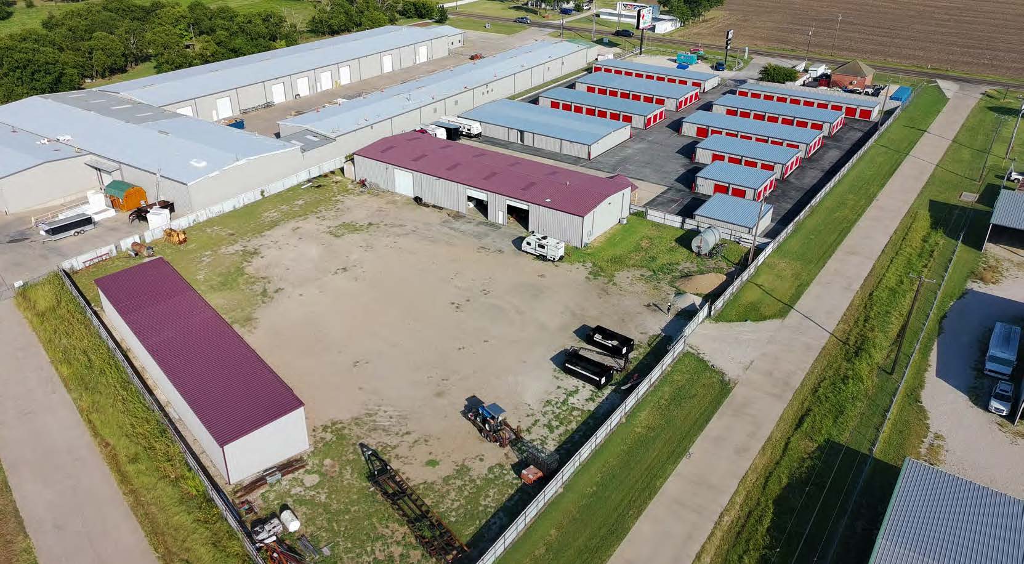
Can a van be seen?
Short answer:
Yes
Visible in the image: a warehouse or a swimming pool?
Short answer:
warehouse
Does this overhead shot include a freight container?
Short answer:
Yes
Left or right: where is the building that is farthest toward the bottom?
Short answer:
right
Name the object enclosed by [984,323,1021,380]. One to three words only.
van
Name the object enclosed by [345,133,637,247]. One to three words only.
building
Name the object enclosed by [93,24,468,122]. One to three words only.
building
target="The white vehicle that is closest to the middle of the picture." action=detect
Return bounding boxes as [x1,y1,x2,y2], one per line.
[519,232,565,261]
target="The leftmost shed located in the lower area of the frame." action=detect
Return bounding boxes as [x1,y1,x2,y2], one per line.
[93,255,309,483]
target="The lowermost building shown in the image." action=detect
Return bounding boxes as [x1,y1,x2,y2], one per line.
[862,457,1024,564]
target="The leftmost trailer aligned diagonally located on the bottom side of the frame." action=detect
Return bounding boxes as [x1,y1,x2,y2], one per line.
[357,433,470,557]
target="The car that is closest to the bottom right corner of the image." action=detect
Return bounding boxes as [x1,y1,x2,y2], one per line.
[988,377,1016,414]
